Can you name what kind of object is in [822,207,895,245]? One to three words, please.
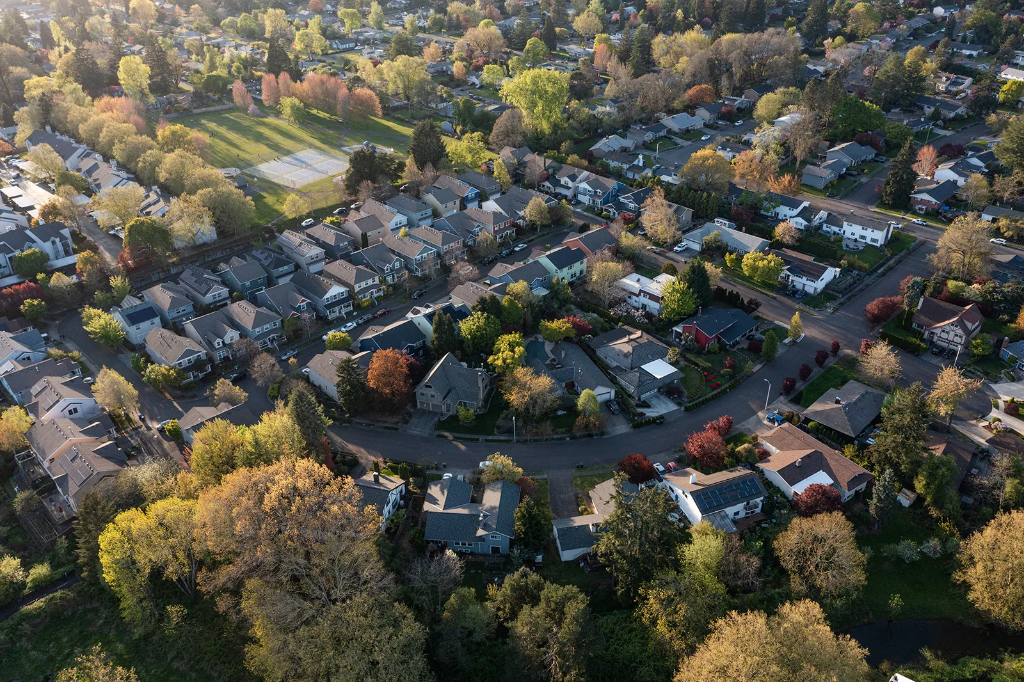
house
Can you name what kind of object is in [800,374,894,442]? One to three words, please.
house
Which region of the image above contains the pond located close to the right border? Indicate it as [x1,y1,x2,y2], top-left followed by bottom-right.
[853,619,1024,670]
